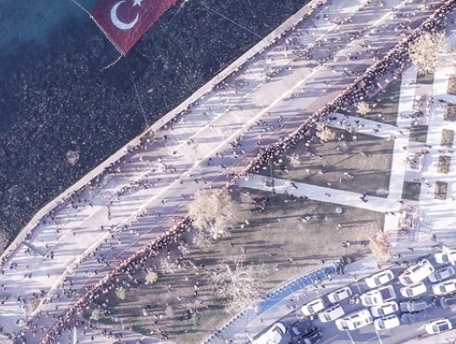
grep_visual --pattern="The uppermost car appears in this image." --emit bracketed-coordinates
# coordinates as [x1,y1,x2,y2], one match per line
[432,247,456,264]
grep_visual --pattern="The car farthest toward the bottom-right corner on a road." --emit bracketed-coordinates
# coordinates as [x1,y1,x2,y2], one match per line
[423,317,453,334]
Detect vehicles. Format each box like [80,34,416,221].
[423,317,453,334]
[299,326,325,344]
[398,297,427,311]
[286,316,314,337]
[369,300,398,316]
[326,284,352,304]
[364,267,394,287]
[398,279,429,298]
[426,263,455,282]
[360,284,399,306]
[394,254,438,287]
[316,302,345,323]
[372,312,402,330]
[429,289,456,309]
[244,313,286,344]
[400,309,427,321]
[430,277,456,294]
[298,295,327,318]
[333,305,374,330]
[432,247,456,264]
